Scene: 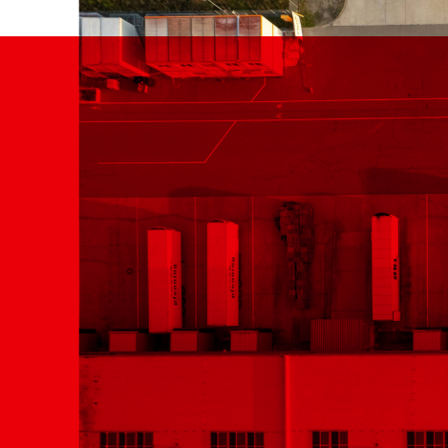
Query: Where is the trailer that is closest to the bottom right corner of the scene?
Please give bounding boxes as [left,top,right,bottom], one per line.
[371,212,402,321]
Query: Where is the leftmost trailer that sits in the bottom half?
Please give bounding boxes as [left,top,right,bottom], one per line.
[147,227,185,332]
